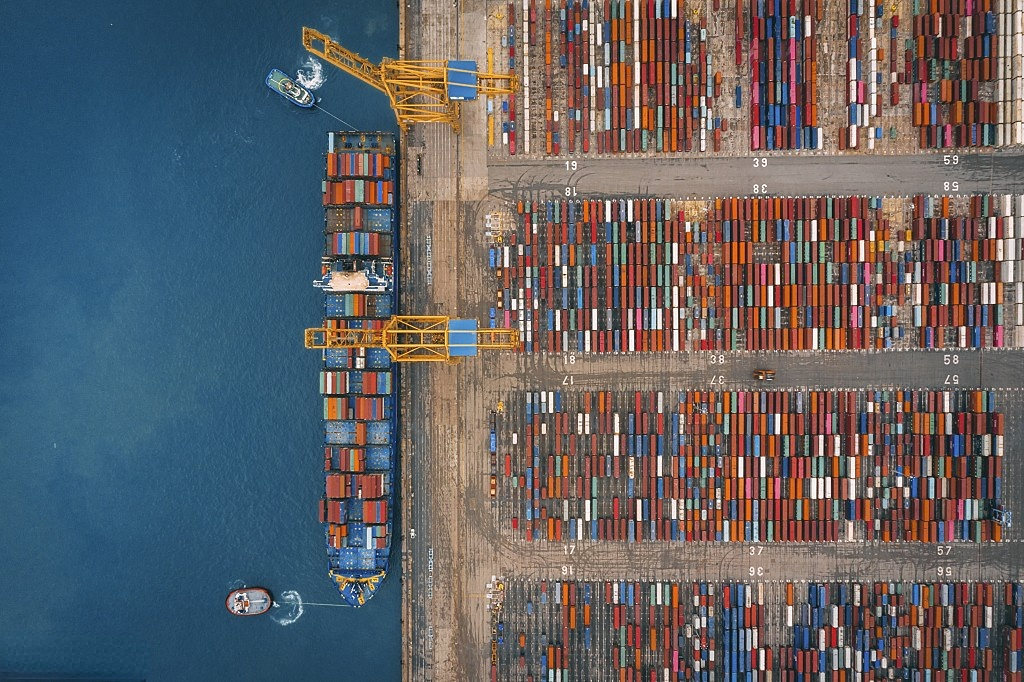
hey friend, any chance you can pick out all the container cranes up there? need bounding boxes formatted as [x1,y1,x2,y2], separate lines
[305,309,517,369]
[304,28,517,141]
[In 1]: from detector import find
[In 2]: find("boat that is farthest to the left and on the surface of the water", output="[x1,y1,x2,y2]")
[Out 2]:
[225,588,272,617]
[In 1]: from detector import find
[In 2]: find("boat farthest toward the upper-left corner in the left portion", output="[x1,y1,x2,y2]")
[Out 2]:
[264,67,315,105]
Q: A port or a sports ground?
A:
port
